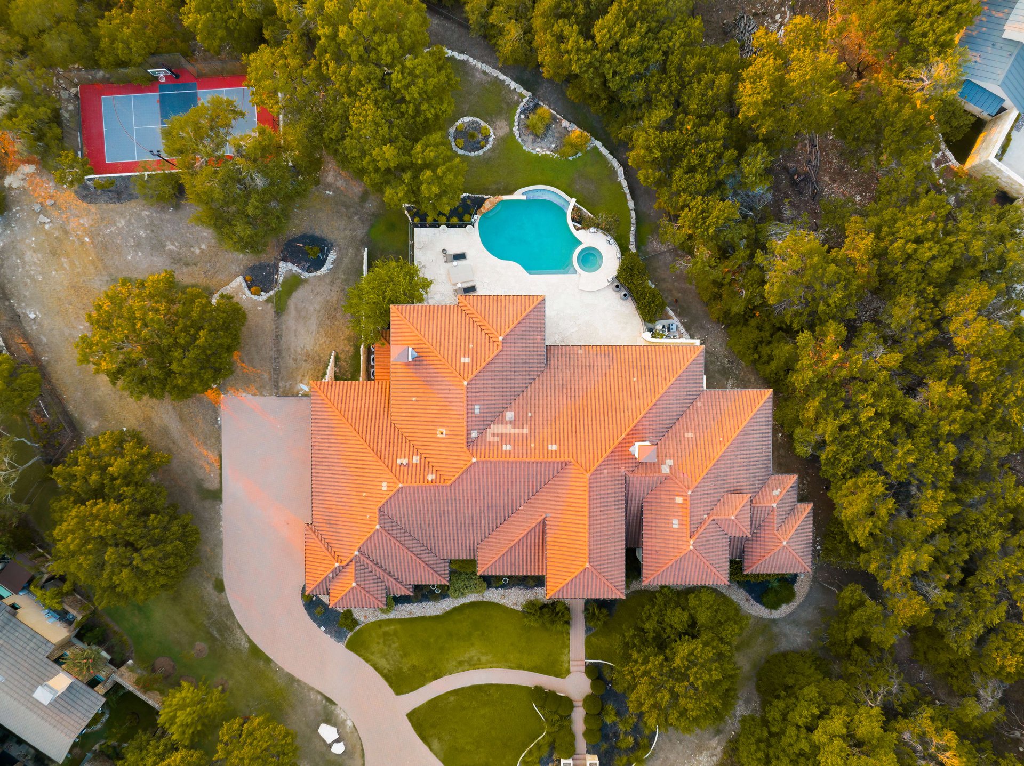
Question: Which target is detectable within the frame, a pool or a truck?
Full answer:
There is a pool in the scene.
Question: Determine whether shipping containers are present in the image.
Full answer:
No, the scene contains no shipping container.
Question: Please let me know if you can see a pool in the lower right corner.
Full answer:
No, I see no pool in the lower right corner.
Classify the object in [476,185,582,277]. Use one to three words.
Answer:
swimming pool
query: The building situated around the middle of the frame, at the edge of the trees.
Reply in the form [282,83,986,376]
[303,294,814,610]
